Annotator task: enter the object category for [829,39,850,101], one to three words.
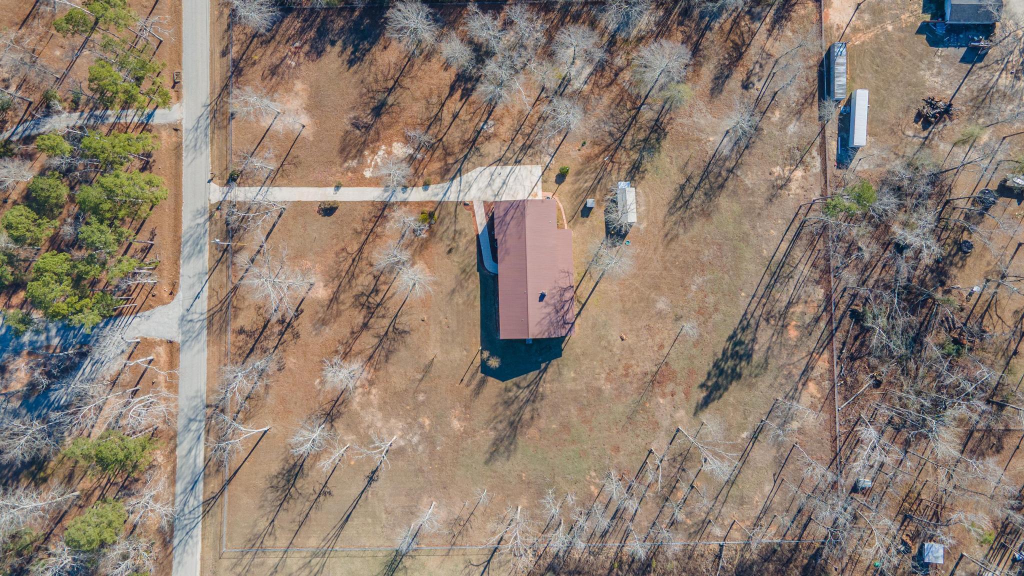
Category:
trailer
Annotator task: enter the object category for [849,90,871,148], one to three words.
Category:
trailer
